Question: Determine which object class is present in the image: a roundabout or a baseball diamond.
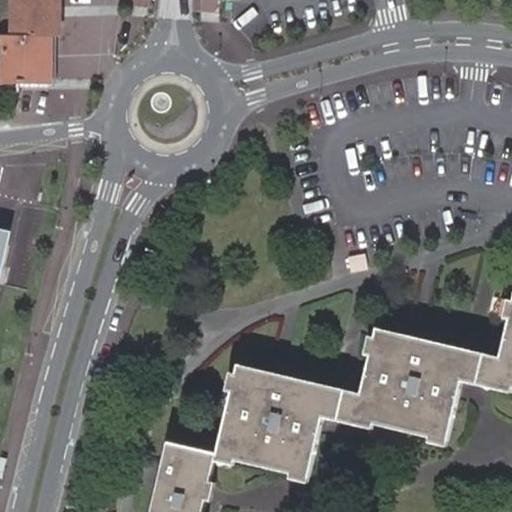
roundabout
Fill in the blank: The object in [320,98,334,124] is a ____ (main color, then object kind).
white vehicle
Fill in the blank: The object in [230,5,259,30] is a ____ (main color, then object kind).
white truck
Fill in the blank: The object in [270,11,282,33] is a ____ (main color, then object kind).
white vehicle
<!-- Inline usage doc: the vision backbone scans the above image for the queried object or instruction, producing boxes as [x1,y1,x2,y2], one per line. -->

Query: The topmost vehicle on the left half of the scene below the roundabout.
[112,238,127,262]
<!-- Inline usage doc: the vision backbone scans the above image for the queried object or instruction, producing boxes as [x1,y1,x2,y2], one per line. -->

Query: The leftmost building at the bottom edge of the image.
[149,442,215,512]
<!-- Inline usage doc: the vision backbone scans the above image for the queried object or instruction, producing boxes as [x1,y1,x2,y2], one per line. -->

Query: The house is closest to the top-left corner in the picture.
[8,0,62,34]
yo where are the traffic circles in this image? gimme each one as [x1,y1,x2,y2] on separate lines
[108,54,228,174]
